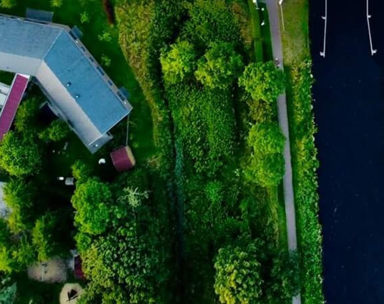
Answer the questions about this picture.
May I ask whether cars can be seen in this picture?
No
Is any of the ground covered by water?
Yes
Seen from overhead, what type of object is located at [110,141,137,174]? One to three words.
shed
